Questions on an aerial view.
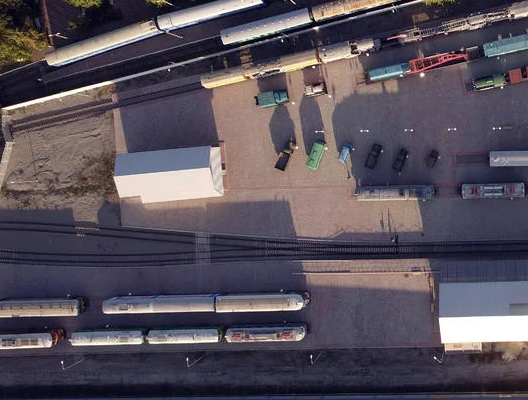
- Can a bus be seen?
Yes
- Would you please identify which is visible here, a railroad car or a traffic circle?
railroad car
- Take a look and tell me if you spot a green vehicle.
Yes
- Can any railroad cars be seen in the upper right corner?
Yes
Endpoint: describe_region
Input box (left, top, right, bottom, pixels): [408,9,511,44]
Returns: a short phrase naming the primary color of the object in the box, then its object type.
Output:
gray crane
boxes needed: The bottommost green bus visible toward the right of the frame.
[306,139,329,171]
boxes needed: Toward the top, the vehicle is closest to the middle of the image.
[273,138,300,172]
